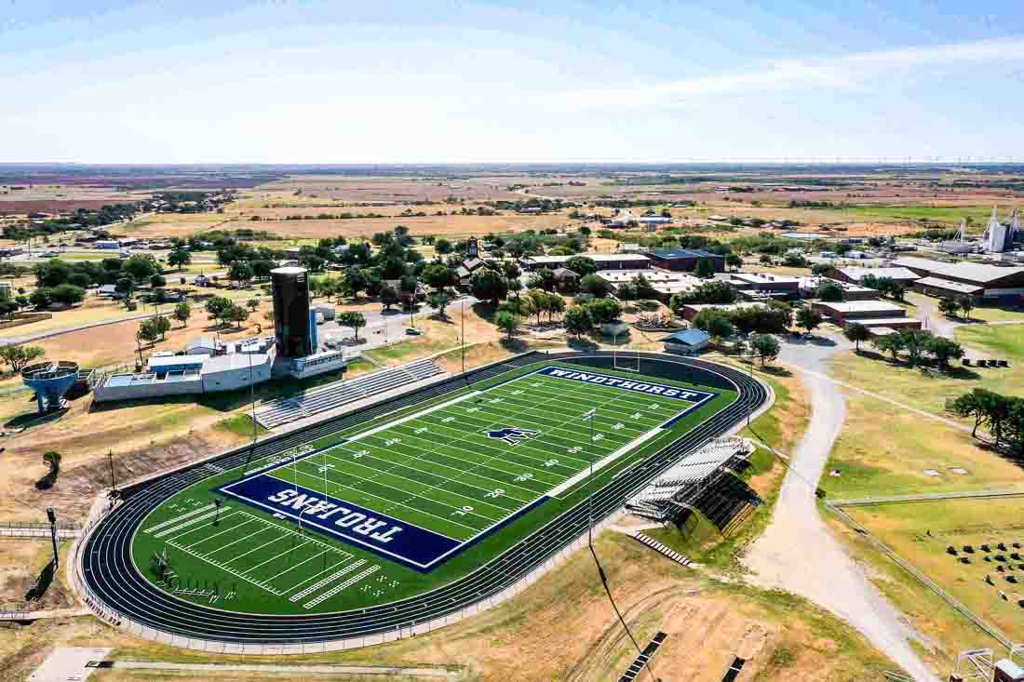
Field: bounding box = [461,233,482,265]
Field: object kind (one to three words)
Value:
building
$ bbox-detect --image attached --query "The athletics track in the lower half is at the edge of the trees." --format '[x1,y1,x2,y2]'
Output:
[74,351,767,648]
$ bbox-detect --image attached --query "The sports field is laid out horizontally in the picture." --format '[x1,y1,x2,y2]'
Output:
[264,374,696,542]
